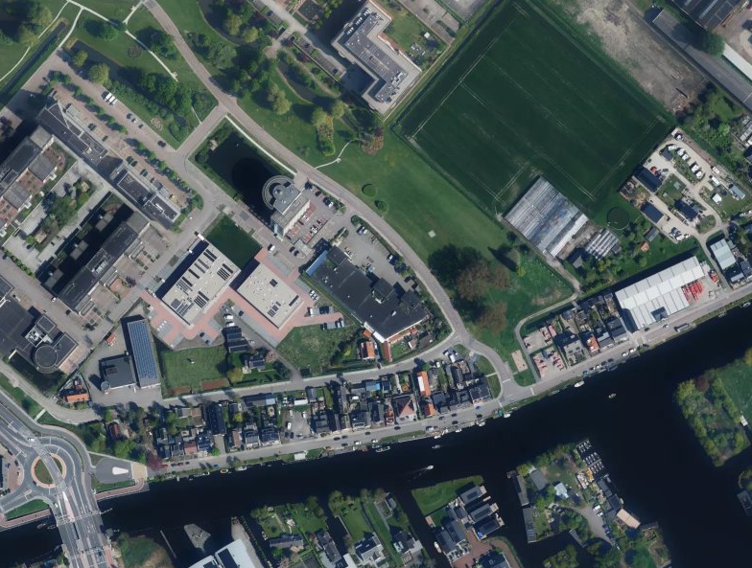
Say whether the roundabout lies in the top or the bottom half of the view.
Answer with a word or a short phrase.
bottom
